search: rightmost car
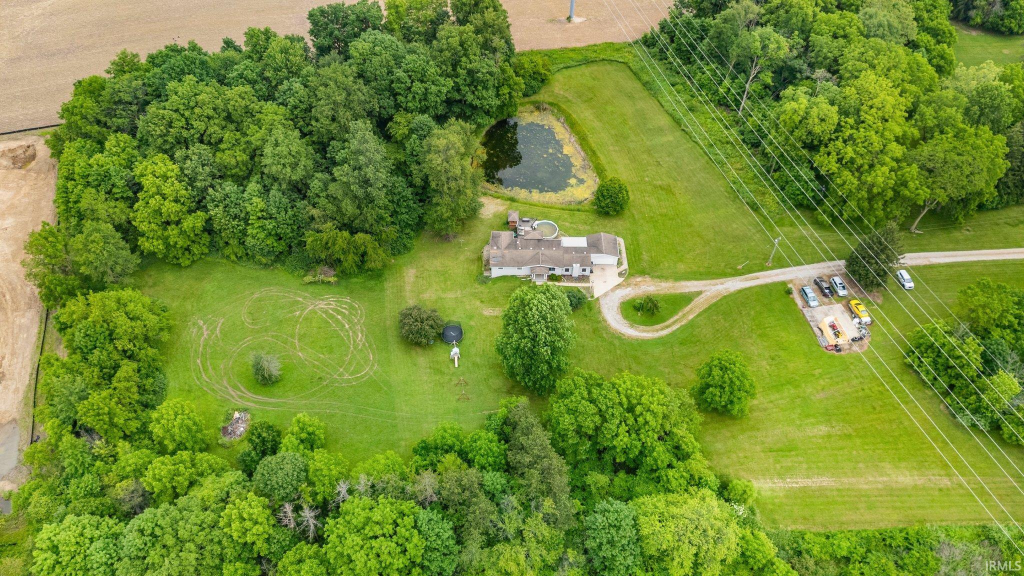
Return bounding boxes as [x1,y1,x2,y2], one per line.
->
[899,270,914,286]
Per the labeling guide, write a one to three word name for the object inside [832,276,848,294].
car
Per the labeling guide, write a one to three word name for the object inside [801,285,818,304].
car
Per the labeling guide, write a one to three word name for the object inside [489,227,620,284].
house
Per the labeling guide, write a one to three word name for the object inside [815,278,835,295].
vehicle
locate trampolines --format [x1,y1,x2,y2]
[441,324,464,345]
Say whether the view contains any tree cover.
Yes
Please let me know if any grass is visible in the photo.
Yes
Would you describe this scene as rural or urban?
rural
